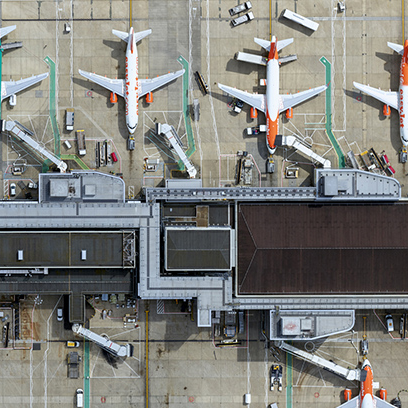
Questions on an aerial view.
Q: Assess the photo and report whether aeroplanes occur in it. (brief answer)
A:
Yes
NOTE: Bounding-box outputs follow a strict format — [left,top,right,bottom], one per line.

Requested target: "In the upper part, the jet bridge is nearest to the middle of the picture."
[155,123,198,180]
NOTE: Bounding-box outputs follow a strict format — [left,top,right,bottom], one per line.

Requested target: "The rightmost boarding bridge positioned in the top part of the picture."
[276,134,332,169]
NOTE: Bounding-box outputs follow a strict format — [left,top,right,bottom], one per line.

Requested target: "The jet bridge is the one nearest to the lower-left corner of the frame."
[72,321,134,358]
